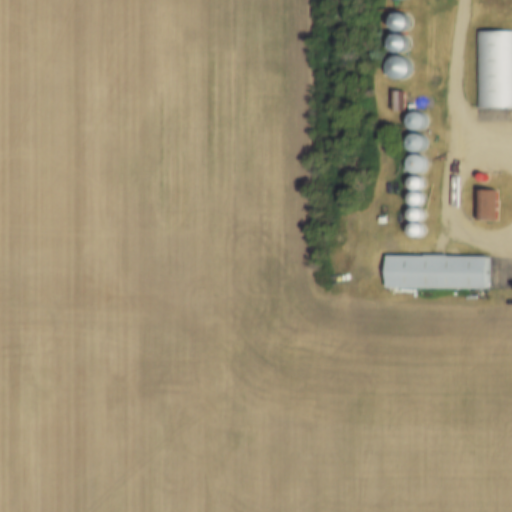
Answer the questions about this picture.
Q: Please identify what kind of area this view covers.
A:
farmland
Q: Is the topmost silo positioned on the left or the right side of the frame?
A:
right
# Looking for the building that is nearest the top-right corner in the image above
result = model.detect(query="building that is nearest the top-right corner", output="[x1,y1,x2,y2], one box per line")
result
[478,30,512,108]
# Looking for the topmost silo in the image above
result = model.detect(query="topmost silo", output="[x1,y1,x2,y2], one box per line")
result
[387,12,414,32]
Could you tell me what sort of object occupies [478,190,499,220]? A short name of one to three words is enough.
building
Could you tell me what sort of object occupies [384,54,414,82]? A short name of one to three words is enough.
silo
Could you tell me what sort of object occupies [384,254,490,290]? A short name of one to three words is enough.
shed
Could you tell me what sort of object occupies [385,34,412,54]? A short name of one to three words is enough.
silo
